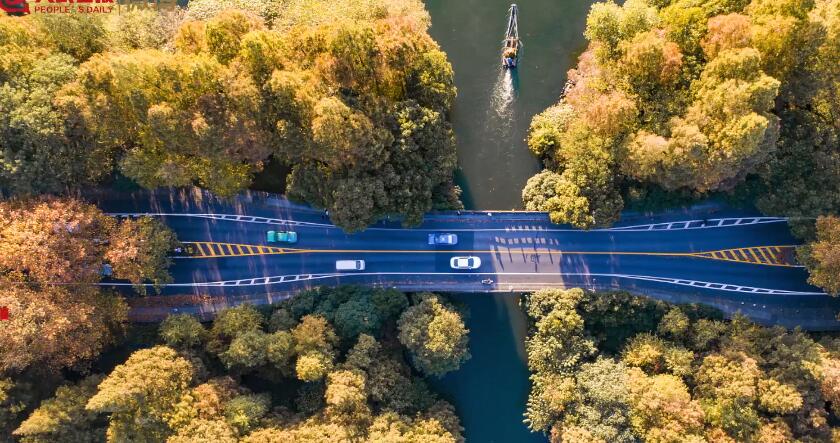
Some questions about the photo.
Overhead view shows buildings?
No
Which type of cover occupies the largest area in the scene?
trees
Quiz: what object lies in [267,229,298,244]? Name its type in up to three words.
car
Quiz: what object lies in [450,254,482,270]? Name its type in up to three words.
car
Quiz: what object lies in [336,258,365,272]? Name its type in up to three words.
vehicle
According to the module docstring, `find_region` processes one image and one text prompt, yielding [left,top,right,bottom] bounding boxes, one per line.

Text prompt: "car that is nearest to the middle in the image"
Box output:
[427,231,457,245]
